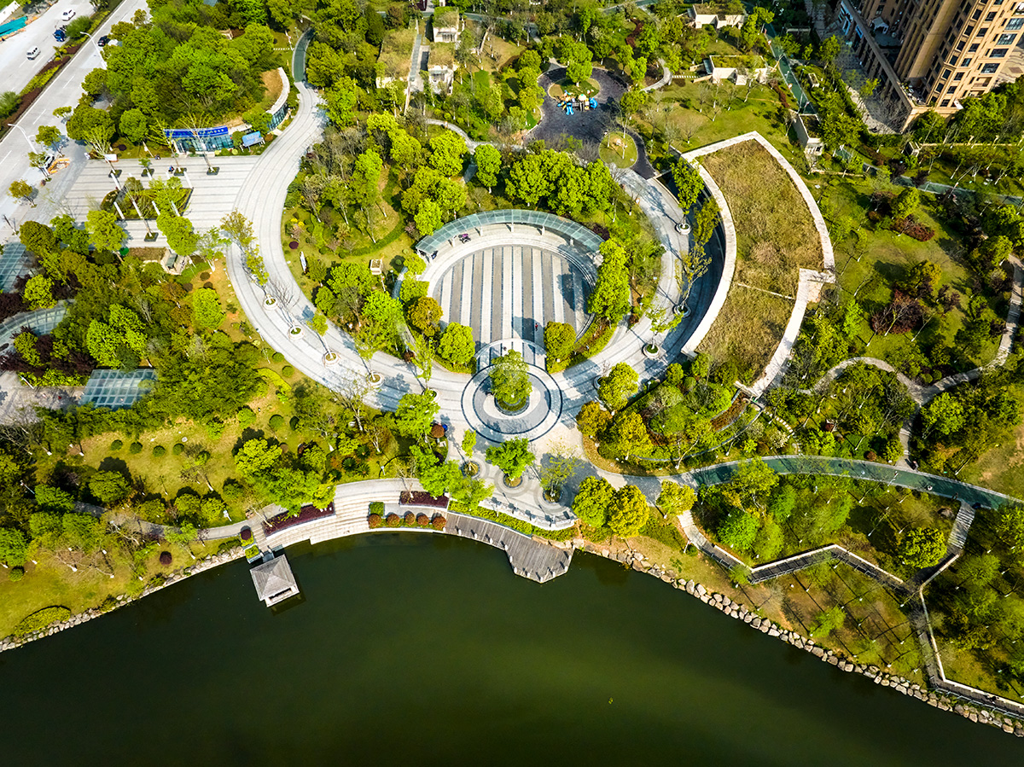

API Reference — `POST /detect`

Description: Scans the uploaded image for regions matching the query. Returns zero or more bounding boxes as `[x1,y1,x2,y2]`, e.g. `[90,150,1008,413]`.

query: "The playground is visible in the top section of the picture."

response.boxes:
[523,67,656,179]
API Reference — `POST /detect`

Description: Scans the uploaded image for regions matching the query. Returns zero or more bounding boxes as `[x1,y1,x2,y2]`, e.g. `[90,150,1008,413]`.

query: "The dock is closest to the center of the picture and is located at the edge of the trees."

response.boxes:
[446,514,575,585]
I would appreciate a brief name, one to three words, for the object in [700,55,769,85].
house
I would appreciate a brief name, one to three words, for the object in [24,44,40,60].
vehicle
